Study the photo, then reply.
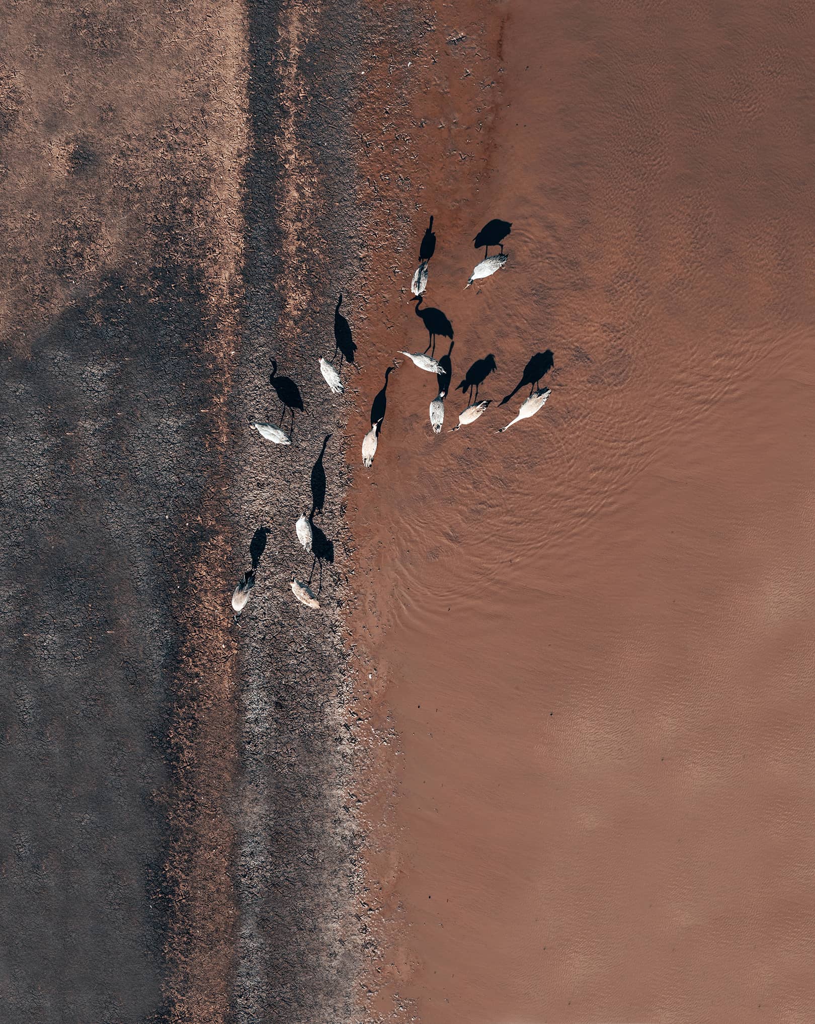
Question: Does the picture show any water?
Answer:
Yes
